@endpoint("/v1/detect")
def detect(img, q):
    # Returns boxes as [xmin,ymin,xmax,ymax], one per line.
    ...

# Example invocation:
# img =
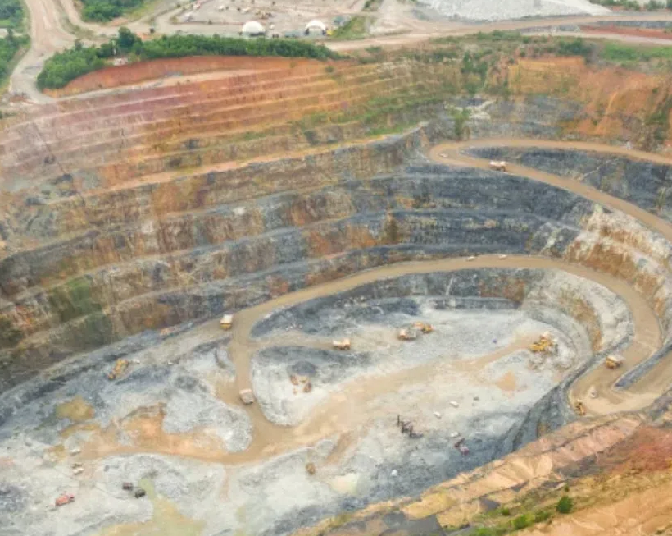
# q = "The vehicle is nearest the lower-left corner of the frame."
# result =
[52,493,73,506]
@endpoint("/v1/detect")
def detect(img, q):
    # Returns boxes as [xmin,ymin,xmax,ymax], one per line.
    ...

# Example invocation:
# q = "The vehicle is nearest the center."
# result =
[333,336,350,349]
